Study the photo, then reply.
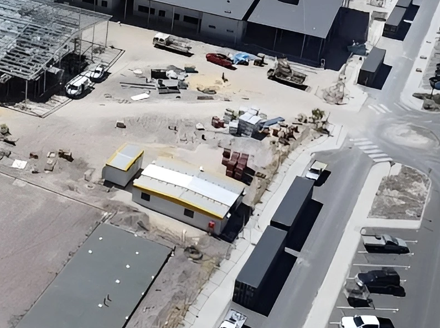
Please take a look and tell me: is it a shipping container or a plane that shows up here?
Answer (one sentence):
Looking from above, you can make out a shipping container.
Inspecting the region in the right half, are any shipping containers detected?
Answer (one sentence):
Yes, there is a shipping container in the right half.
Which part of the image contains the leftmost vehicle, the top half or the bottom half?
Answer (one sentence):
The leftmost vehicle sits in the top half of the picture.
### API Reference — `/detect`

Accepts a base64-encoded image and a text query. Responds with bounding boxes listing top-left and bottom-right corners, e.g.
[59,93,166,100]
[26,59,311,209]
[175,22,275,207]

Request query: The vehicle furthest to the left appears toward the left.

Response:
[67,73,92,94]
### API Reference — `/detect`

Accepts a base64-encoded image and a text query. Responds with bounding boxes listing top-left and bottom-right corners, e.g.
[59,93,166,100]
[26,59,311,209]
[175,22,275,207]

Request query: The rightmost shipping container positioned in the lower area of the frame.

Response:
[270,175,315,245]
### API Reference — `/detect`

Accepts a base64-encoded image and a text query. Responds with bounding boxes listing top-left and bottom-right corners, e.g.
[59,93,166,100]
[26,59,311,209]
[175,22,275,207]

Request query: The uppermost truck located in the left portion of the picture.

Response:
[155,30,193,55]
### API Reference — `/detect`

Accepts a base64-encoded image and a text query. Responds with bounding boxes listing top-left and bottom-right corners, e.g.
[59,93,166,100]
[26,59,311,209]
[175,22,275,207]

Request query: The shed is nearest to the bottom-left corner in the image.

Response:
[106,144,143,185]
